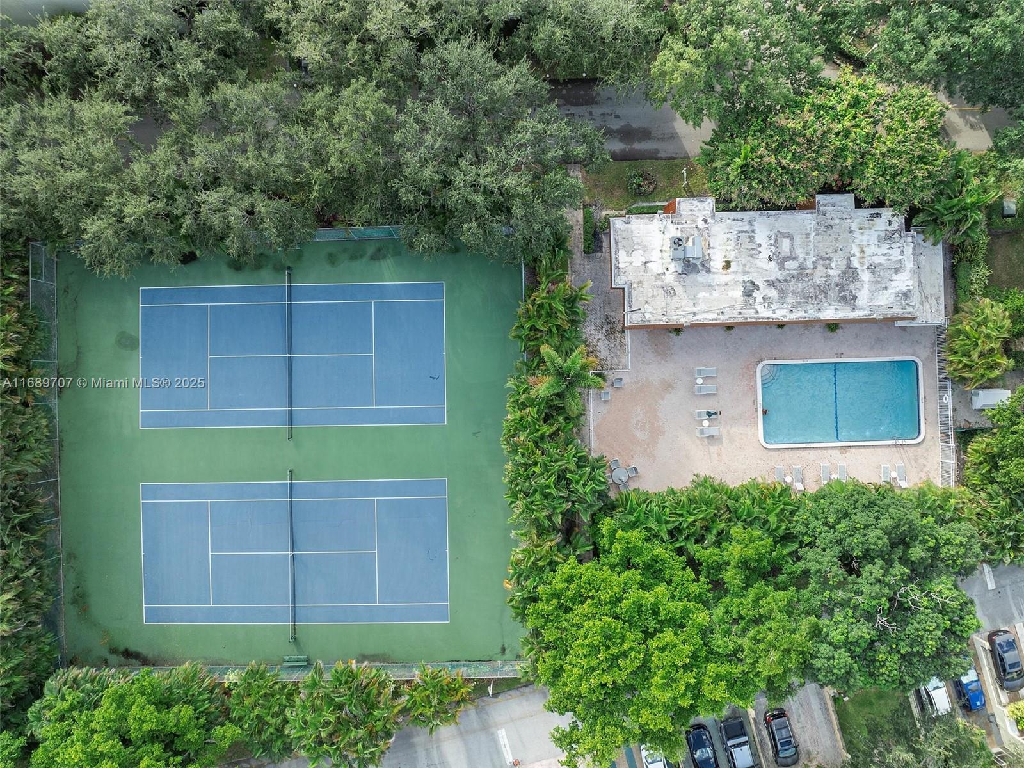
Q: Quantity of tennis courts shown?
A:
2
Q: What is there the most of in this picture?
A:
trees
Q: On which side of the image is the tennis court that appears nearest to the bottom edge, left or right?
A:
left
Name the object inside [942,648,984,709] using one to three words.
car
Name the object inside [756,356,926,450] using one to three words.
swimming pool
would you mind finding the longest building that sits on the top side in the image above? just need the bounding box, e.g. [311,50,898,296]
[607,194,946,329]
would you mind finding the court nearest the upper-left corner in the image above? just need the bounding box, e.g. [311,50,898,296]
[139,282,446,428]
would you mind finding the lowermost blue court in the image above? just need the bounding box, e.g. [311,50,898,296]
[141,479,449,625]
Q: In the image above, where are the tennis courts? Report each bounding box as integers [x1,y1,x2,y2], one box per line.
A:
[141,479,449,625]
[139,282,446,428]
